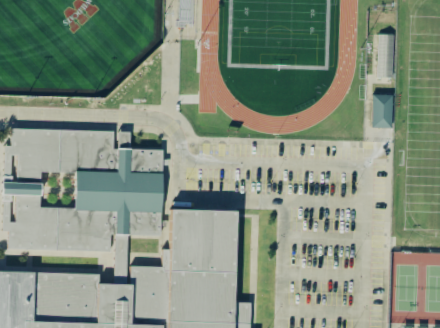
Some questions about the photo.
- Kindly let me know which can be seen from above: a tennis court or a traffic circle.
tennis court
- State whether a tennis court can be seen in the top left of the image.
No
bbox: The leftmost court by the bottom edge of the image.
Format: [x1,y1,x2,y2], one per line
[394,264,419,312]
